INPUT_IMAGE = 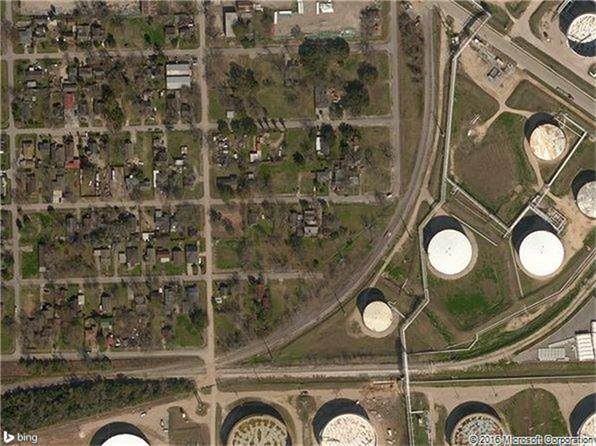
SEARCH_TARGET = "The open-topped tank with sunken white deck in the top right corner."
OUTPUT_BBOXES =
[567,10,596,62]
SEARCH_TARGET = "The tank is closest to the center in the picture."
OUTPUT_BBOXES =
[363,301,395,332]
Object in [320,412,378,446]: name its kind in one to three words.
storage tank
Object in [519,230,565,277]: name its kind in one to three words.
storage tank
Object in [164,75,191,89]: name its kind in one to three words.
building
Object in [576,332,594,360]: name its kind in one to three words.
building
